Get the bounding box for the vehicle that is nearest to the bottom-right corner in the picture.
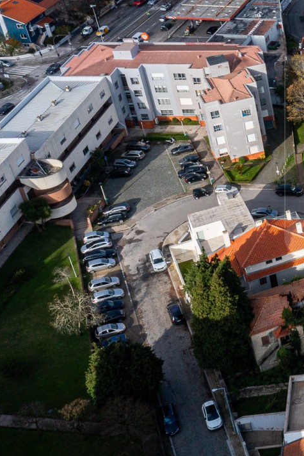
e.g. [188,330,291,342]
[202,398,220,428]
